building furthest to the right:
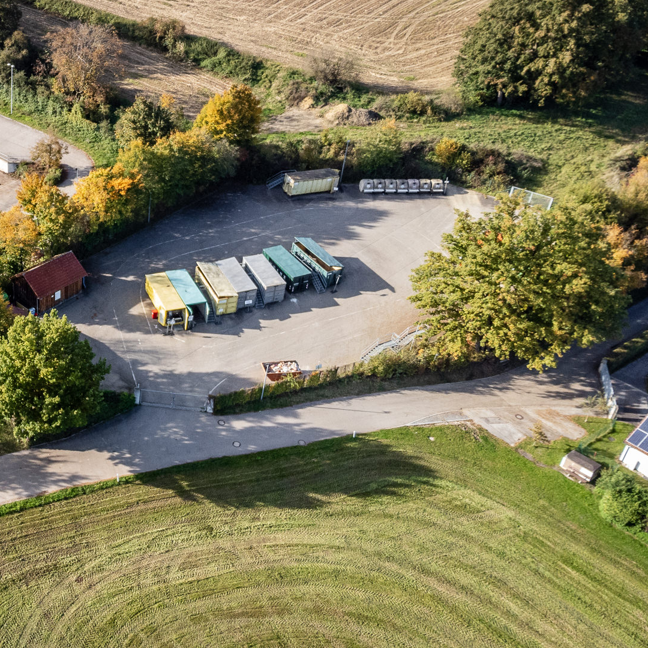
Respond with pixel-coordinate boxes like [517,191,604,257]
[620,415,648,476]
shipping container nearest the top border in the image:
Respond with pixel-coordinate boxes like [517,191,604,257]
[282,168,339,195]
